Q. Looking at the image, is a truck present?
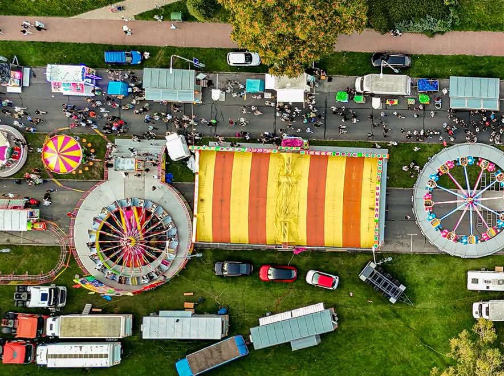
Yes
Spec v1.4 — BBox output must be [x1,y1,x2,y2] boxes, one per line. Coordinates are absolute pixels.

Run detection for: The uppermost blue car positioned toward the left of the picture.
[103,49,145,66]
